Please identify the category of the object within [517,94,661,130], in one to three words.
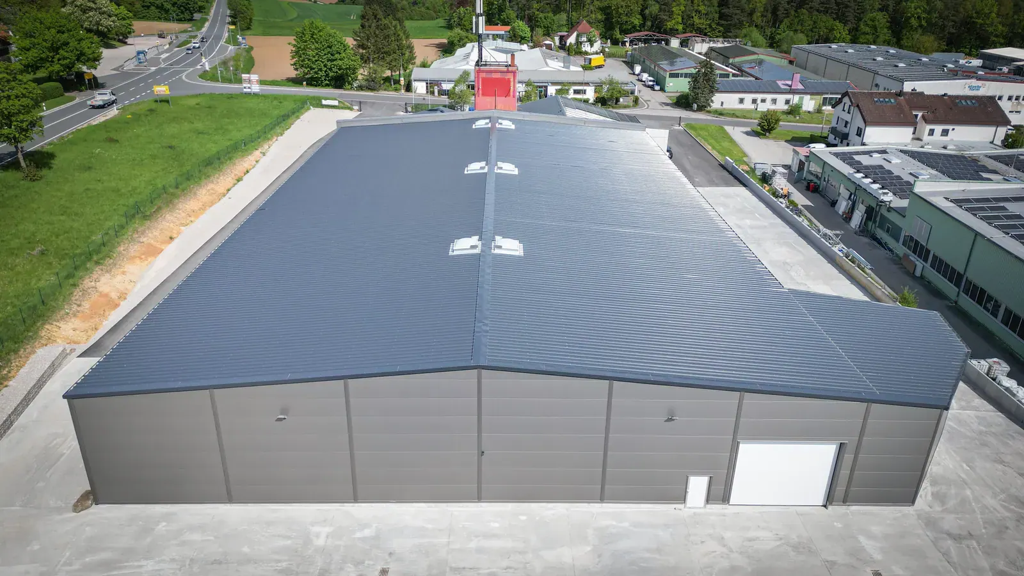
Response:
building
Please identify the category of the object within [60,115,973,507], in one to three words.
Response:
building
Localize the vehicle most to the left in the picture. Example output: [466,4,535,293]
[88,89,115,106]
